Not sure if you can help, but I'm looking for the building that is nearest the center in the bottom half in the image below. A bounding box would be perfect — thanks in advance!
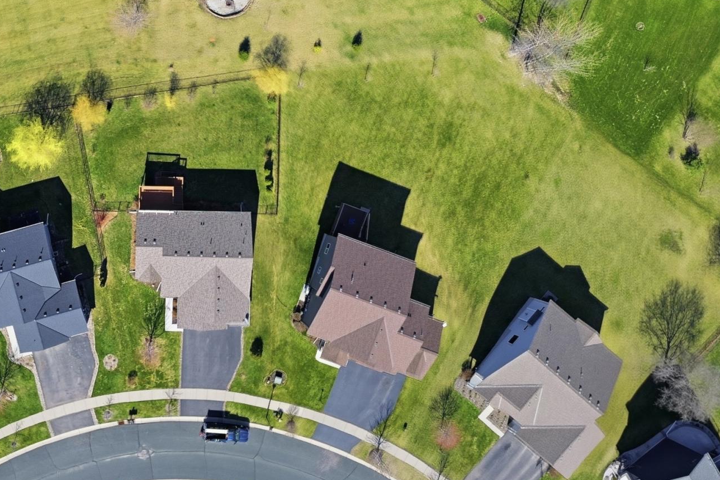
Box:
[292,204,444,381]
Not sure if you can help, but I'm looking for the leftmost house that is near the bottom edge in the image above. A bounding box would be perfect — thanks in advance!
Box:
[463,294,622,479]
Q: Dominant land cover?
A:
grass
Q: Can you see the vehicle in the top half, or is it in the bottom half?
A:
bottom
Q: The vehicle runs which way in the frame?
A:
from side to side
